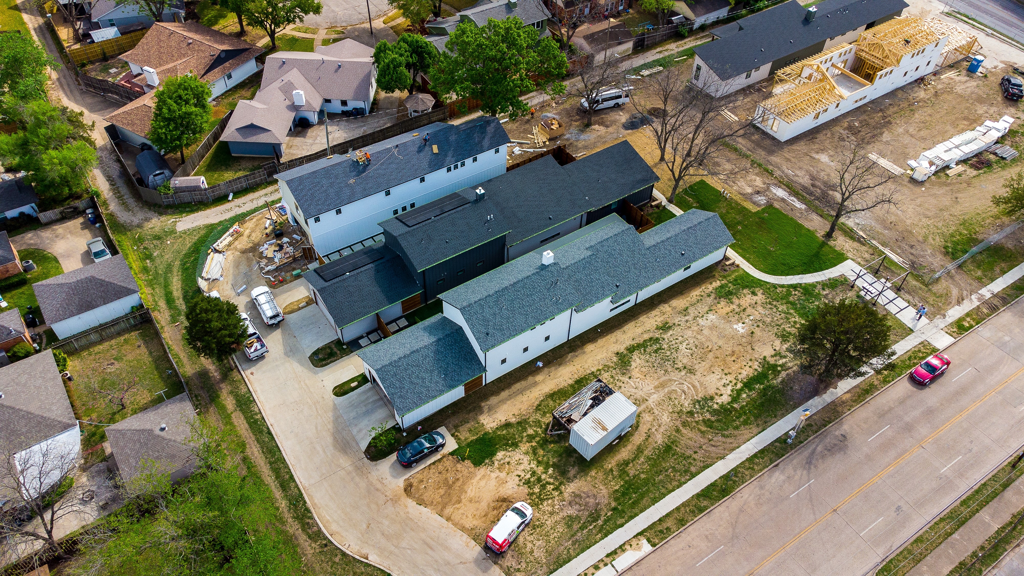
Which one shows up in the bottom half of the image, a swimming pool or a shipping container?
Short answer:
shipping container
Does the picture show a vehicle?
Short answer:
Yes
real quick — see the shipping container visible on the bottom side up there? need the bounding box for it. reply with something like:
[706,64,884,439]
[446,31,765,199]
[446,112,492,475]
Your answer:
[570,392,637,460]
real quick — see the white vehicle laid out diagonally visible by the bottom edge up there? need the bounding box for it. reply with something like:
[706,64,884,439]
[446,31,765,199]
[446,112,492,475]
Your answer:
[485,502,533,555]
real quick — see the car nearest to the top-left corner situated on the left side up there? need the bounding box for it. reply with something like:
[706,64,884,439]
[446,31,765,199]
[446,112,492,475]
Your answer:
[86,237,112,263]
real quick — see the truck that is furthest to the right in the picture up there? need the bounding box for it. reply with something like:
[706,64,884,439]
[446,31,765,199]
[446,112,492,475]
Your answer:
[1000,73,1024,100]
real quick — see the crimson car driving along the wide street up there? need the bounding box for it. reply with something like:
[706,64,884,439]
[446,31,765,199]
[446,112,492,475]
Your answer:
[910,352,954,386]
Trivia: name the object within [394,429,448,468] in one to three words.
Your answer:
car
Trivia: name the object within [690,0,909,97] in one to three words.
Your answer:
house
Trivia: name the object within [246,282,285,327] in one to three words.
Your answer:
truck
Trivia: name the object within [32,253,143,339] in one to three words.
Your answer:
building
